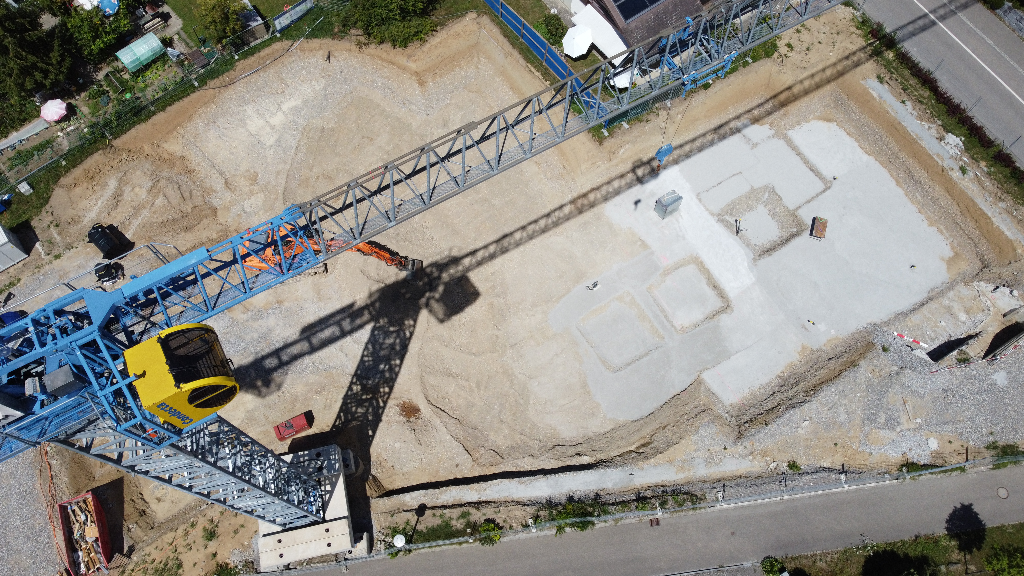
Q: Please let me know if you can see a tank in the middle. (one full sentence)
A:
No, looking in the middle, there is no tank.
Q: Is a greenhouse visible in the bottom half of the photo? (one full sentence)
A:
No, there is no greenhouse in the bottom half of the photo.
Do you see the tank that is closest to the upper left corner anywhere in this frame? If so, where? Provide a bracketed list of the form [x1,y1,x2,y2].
[89,218,133,263]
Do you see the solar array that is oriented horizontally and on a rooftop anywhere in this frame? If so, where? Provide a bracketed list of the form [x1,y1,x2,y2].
[616,0,670,23]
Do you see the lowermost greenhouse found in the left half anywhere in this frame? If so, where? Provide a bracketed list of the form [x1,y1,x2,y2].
[115,31,171,78]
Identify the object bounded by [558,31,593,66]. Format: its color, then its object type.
white umbrella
